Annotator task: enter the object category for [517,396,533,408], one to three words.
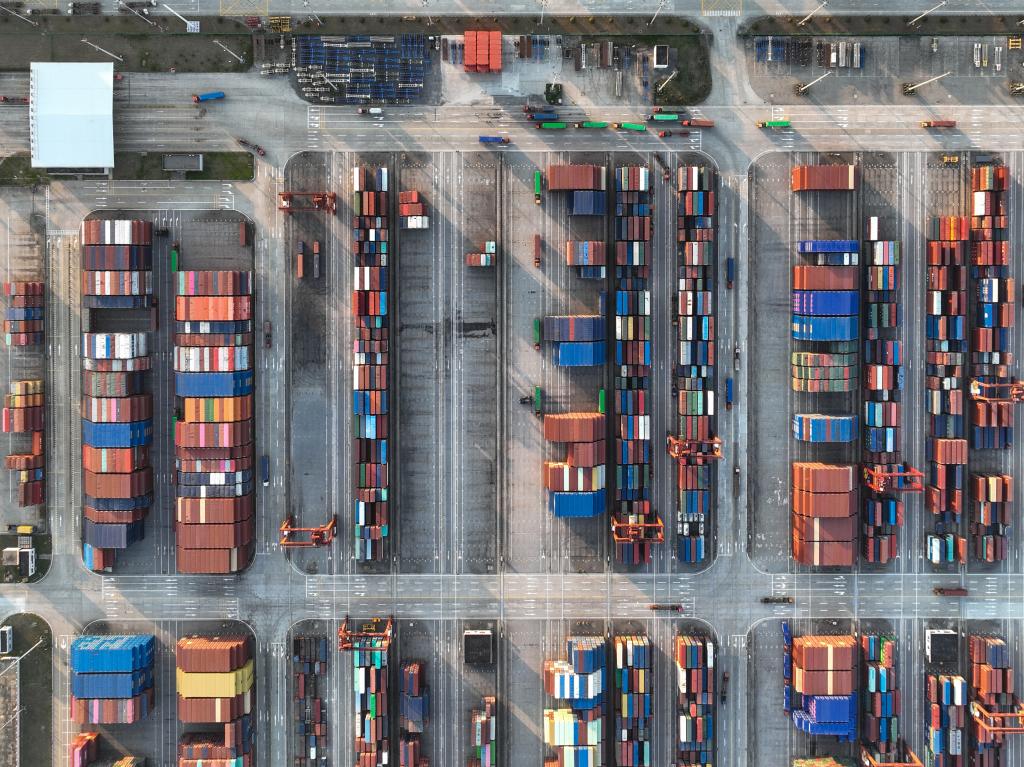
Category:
vehicle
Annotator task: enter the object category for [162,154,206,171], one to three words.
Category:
building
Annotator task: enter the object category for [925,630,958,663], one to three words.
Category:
building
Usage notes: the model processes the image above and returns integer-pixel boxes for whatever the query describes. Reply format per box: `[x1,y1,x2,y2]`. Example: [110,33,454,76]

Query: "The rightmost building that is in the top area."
[652,45,668,69]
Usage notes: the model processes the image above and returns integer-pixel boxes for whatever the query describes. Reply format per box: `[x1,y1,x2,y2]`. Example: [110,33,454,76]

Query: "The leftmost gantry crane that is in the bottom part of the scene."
[276,514,338,546]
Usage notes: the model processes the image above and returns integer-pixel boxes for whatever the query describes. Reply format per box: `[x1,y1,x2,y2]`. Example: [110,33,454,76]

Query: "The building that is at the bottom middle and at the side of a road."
[464,629,492,663]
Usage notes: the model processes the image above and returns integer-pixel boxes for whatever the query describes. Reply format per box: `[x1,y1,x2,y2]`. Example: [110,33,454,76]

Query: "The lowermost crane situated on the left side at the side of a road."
[335,615,396,651]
